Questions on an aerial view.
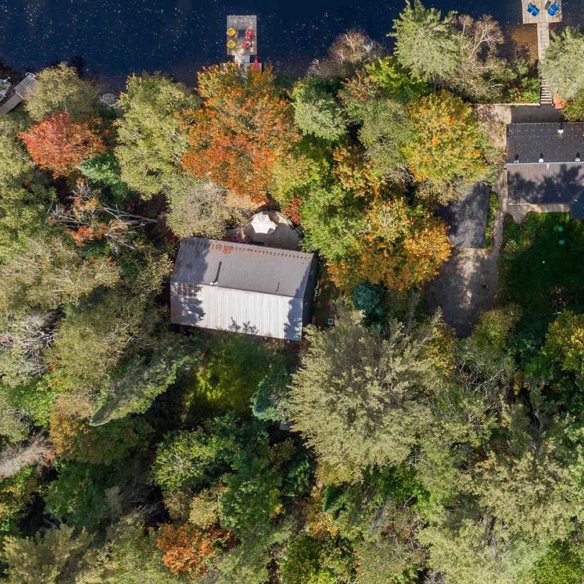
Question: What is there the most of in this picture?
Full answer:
The largest share of the image is taken up by trees.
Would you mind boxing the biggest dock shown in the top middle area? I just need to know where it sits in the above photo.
[227,15,258,55]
